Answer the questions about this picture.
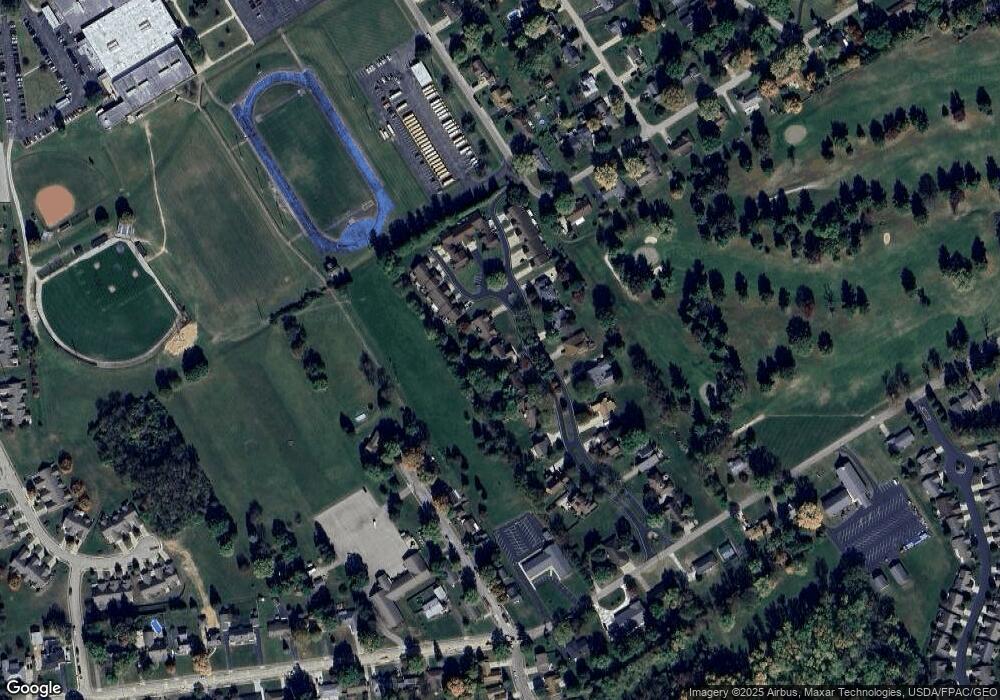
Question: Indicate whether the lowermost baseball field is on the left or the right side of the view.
left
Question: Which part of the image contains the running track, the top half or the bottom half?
top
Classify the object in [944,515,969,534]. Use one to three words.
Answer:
house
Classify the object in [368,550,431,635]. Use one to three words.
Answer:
building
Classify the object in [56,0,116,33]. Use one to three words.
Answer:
building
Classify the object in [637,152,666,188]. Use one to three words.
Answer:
house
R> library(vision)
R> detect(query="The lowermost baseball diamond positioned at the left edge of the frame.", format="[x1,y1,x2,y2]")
[37,238,184,367]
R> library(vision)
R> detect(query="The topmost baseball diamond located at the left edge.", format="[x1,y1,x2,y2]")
[14,152,114,230]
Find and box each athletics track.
[229,66,396,257]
